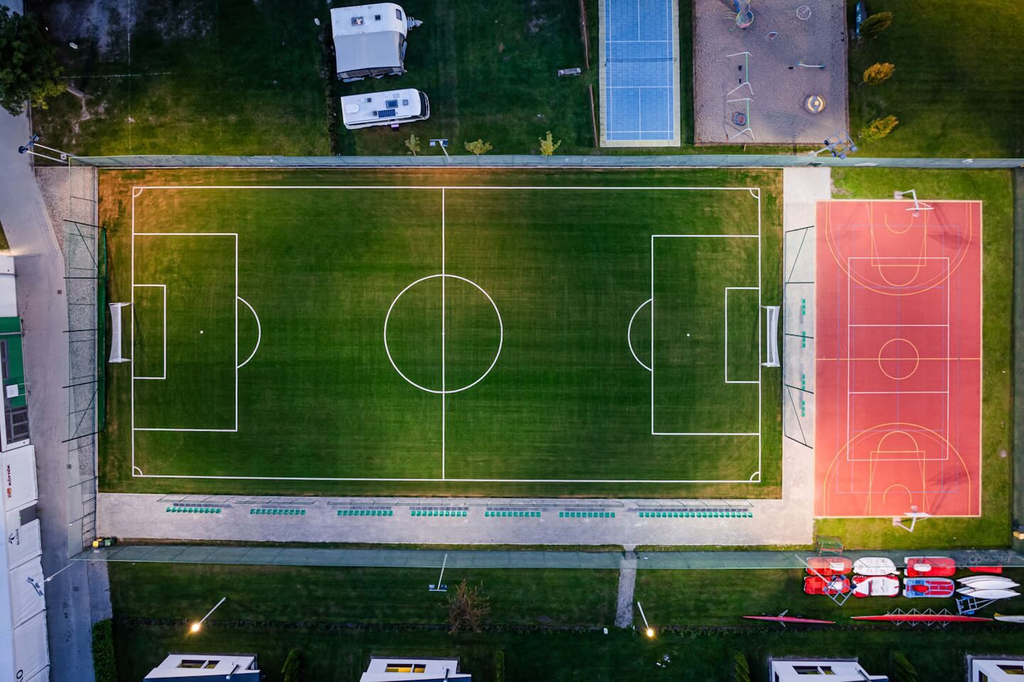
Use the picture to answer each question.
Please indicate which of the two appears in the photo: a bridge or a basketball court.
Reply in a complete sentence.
The one in the frame is a basketball court.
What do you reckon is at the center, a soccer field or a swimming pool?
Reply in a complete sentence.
Looking at the center, you will find a soccer field.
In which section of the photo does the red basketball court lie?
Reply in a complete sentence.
You can find the red basketball court in the right area of the picture.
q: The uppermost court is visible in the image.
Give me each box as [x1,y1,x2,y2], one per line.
[599,0,680,146]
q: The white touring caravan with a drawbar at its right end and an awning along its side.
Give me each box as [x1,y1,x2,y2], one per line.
[331,4,425,37]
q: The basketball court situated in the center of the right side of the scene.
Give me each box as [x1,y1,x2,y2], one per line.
[816,200,982,517]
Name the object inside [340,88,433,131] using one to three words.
camper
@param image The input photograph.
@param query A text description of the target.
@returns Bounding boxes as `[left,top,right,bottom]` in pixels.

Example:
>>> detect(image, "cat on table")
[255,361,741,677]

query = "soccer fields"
[99,169,782,500]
